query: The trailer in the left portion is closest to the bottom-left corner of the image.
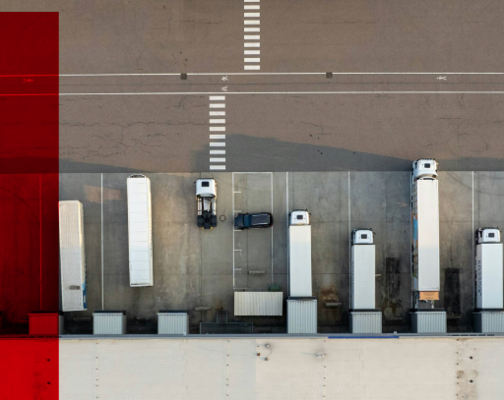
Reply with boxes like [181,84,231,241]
[59,201,89,313]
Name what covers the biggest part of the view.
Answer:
paved ground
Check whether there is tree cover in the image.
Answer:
No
